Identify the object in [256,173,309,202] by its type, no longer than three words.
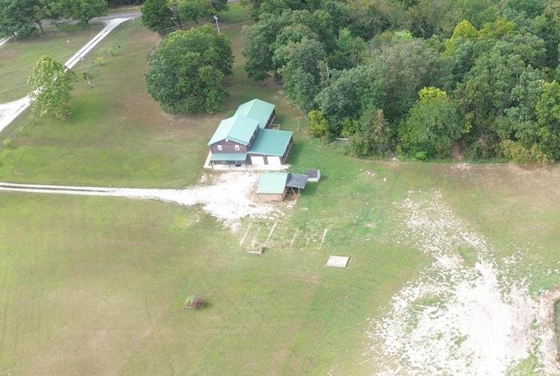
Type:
shed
